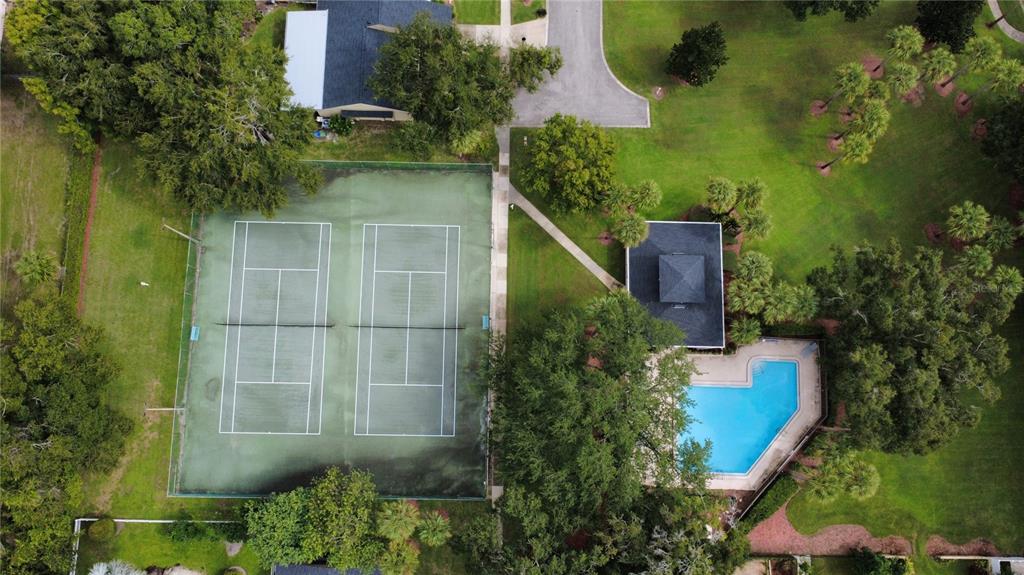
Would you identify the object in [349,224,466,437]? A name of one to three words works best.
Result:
tennis court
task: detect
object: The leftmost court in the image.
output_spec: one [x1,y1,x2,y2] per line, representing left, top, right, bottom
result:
[215,222,334,435]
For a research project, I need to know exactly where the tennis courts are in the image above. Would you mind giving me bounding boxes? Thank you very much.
[349,224,466,437]
[215,222,334,435]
